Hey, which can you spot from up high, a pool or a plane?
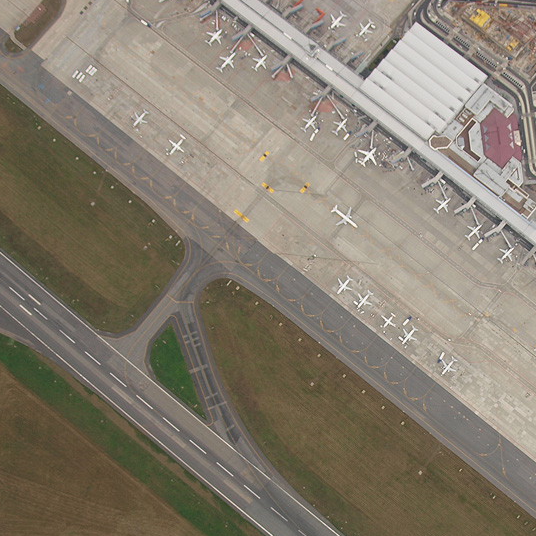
plane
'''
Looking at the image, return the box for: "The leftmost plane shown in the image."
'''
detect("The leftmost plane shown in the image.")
[133,108,150,127]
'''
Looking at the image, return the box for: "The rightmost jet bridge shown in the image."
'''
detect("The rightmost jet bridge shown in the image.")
[521,246,536,265]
